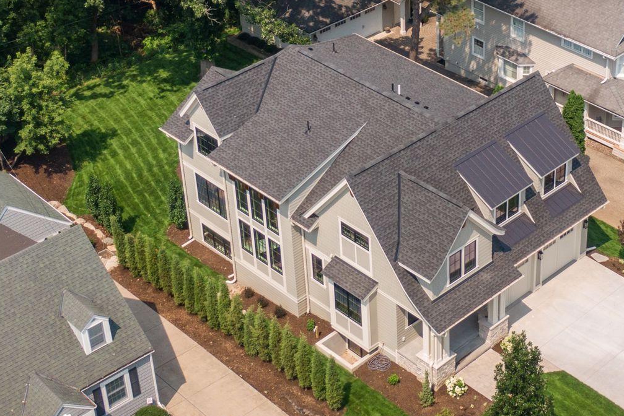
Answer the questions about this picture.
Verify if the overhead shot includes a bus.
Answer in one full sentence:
No, the photo shows no bus.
